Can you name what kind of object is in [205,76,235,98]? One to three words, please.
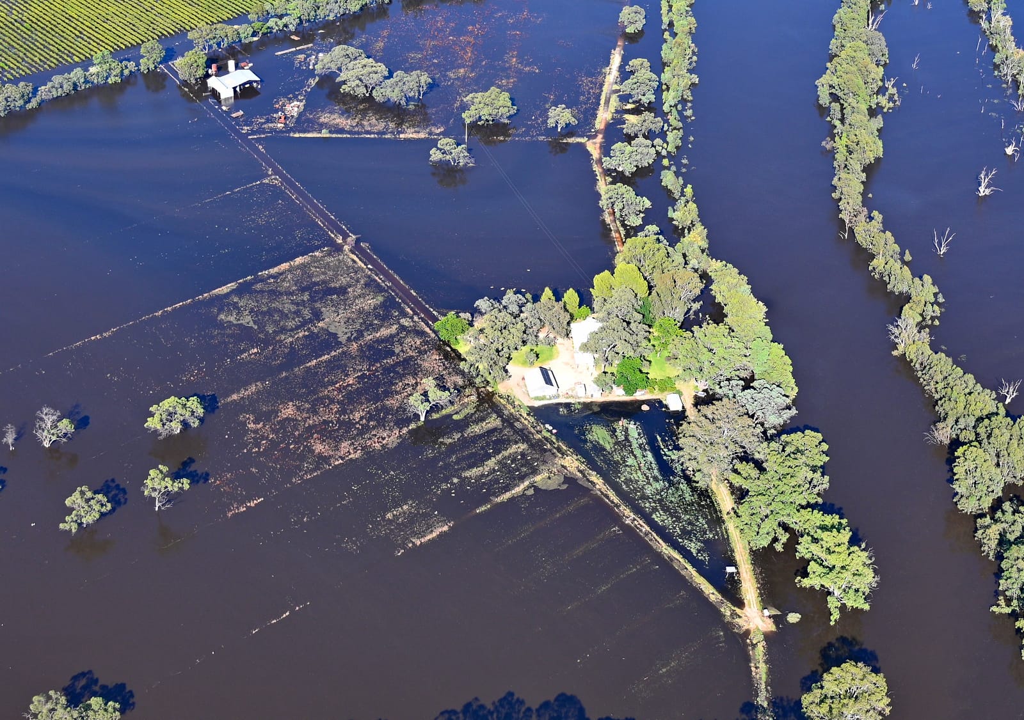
shed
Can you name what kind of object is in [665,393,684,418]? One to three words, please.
shed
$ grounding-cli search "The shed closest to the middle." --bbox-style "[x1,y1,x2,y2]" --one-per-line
[523,367,559,400]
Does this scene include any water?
Yes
